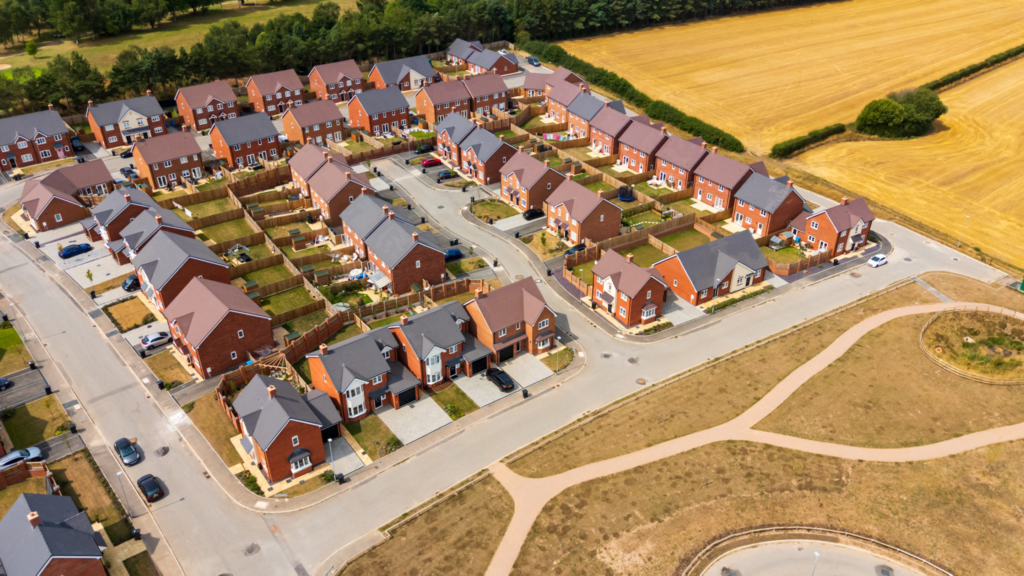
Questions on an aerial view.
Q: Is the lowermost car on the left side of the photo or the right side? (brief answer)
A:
left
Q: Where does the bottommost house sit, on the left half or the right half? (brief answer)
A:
left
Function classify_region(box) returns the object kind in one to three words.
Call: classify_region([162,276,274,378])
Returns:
house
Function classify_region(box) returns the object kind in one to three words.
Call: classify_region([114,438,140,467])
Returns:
car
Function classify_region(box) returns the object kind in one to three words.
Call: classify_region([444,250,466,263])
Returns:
vehicle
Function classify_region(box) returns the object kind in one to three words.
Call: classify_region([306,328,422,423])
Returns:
house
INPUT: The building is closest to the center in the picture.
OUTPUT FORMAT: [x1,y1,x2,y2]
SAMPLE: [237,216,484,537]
[463,277,558,364]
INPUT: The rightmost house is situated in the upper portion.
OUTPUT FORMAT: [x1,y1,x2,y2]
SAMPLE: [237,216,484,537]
[787,194,876,258]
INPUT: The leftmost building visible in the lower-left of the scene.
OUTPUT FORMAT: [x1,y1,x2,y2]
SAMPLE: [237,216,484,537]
[0,493,108,576]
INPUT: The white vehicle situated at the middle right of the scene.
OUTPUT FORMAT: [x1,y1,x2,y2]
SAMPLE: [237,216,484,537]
[865,254,890,269]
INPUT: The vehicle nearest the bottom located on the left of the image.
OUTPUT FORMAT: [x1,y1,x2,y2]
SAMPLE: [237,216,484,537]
[137,474,165,506]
